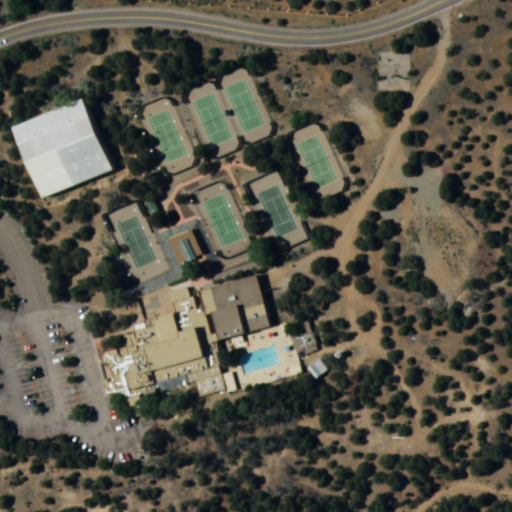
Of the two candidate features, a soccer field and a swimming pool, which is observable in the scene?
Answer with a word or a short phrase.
swimming pool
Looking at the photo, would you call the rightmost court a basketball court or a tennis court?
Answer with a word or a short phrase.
tennis court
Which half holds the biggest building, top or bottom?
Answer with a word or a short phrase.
bottom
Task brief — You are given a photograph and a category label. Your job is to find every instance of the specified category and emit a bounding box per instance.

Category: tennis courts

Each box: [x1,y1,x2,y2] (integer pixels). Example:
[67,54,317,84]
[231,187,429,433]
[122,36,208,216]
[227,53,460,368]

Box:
[108,204,169,282]
[220,69,270,142]
[249,172,308,246]
[198,184,249,256]
[188,83,238,156]
[292,125,343,198]
[142,100,194,172]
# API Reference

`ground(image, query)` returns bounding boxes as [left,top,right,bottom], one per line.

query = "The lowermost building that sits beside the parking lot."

[104,276,270,408]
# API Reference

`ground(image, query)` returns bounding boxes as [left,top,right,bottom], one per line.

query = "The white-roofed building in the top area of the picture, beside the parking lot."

[12,99,115,198]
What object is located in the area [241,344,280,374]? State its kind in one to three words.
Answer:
swimming pool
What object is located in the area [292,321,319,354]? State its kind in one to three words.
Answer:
building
